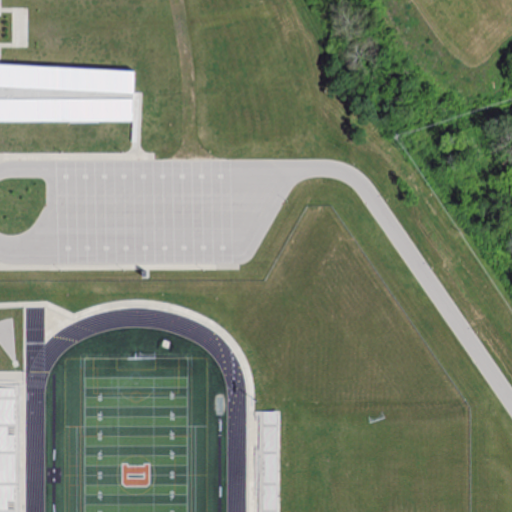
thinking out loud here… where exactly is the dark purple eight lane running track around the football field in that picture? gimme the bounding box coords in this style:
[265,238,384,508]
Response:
[26,308,246,512]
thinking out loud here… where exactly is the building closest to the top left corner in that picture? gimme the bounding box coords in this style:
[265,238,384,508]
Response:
[0,64,134,122]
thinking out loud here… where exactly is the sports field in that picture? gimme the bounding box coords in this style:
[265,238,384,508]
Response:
[45,329,227,512]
